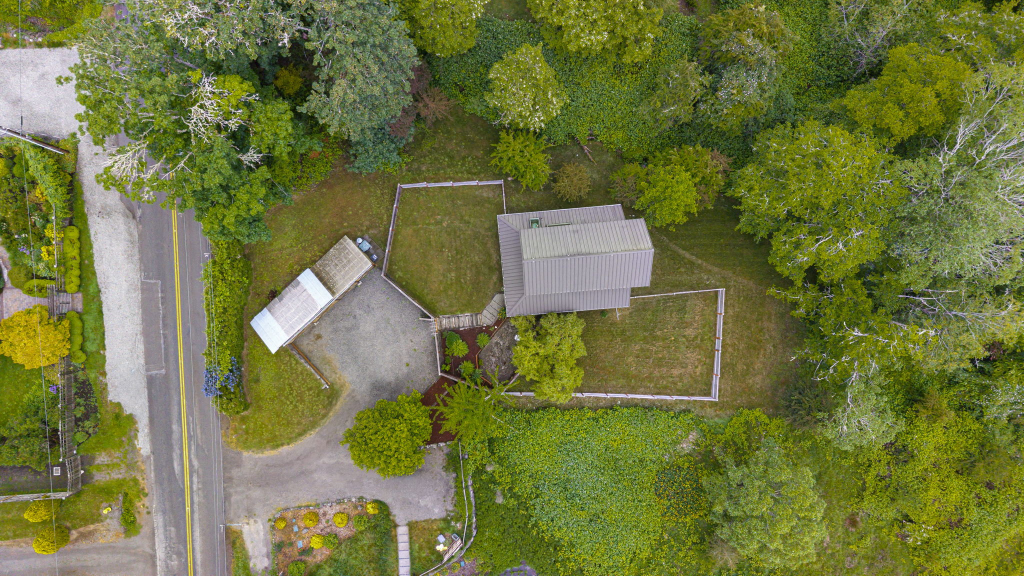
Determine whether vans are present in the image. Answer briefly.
No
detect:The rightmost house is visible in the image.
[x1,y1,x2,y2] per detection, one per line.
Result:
[496,203,654,318]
